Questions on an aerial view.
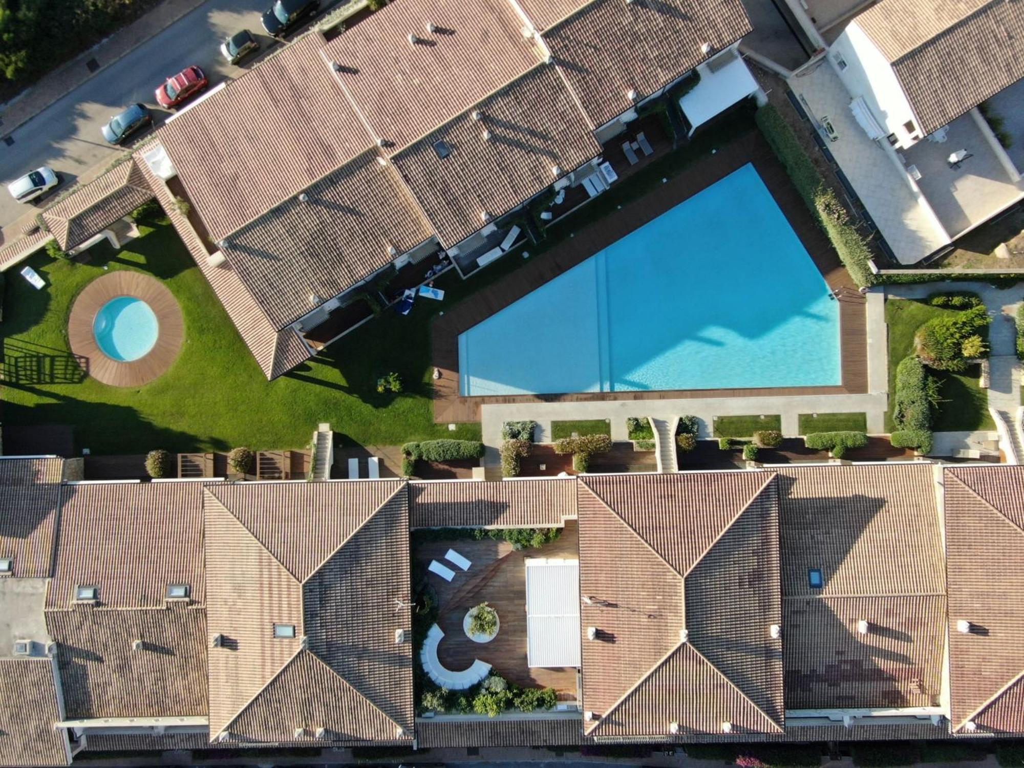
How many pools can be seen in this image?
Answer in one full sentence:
My tally gives 2 pools in this view.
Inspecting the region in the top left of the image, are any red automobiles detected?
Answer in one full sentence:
Yes, looking in the top left of the image, one can make out a red automobile.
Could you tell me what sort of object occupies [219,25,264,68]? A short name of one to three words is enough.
car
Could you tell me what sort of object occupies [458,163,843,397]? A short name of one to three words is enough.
swimming pool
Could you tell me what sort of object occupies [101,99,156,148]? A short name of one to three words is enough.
car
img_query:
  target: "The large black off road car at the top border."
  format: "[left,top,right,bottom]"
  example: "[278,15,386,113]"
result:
[262,0,327,41]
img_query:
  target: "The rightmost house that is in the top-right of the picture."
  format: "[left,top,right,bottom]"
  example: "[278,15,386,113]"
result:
[827,0,1024,154]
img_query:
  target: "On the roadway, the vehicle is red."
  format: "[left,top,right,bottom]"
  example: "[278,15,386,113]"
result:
[154,62,213,112]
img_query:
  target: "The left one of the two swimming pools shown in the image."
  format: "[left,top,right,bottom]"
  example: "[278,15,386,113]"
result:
[91,294,161,363]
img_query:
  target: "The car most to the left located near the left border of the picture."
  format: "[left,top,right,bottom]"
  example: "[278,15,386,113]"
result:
[2,165,62,207]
